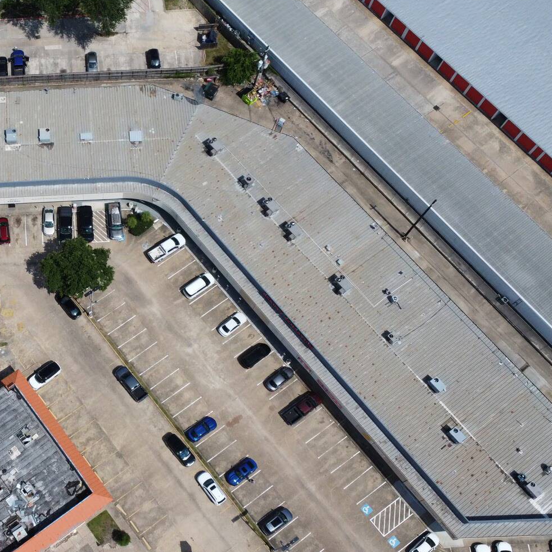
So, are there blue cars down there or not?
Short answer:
Yes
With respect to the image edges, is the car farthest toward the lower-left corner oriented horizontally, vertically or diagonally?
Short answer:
diagonally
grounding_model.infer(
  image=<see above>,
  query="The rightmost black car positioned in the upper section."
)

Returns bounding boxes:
[146,48,160,69]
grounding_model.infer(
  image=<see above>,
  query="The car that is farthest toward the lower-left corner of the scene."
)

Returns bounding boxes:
[29,362,62,389]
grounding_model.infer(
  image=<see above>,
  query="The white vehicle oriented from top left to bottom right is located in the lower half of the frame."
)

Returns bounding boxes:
[196,471,226,506]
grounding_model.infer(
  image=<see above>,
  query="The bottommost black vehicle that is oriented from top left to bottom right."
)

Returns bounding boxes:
[164,433,194,465]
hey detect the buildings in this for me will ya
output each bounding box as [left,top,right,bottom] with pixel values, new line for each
[353,0,552,182]
[0,371,112,552]
[206,0,552,346]
[0,84,552,541]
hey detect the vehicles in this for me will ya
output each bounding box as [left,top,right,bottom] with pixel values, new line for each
[147,234,185,262]
[0,57,7,76]
[57,293,81,319]
[164,433,194,465]
[181,273,214,298]
[42,208,54,236]
[85,52,97,72]
[107,203,123,238]
[196,471,226,506]
[226,458,257,486]
[281,393,322,424]
[263,367,295,391]
[257,507,292,535]
[494,543,512,552]
[79,208,93,239]
[0,218,10,245]
[112,365,150,404]
[237,344,270,368]
[216,313,246,336]
[8,49,28,79]
[406,532,440,552]
[185,417,216,442]
[57,207,72,242]
[29,362,62,389]
[146,48,160,69]
[473,545,489,552]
